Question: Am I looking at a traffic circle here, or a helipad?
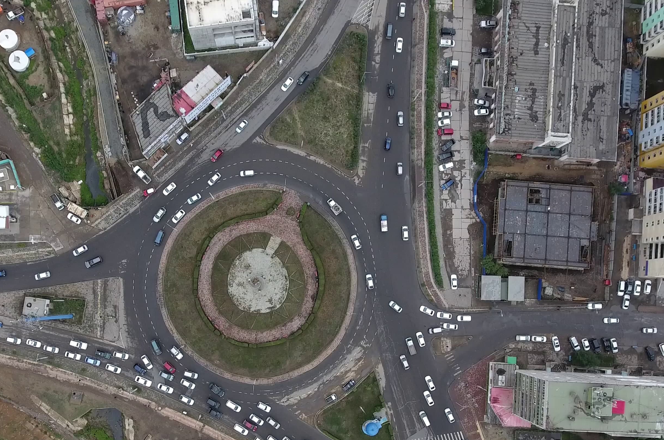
traffic circle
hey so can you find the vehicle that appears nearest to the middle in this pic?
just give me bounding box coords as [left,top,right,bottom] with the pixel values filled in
[327,198,343,216]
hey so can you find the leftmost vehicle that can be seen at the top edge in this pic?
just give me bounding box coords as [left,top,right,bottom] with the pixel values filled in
[6,7,26,23]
